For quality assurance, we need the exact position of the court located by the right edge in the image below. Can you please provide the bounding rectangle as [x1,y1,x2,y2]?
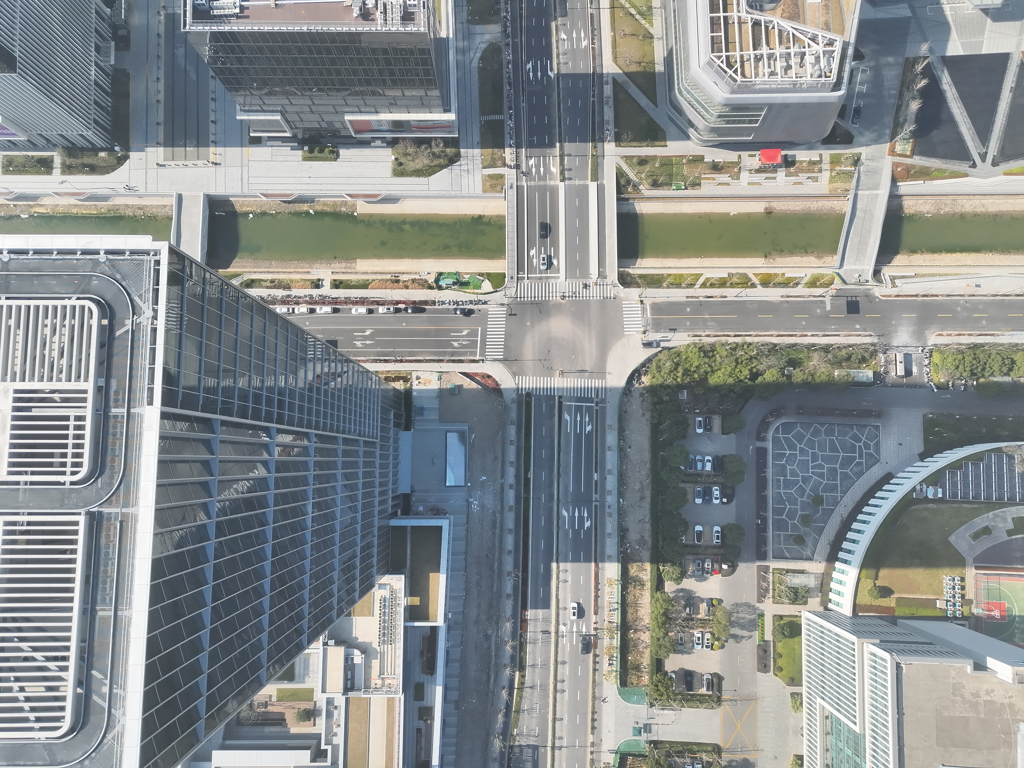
[973,573,1024,639]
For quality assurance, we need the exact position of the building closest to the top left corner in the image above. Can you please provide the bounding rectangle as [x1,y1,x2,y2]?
[0,0,143,148]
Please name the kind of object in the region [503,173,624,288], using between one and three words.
bridge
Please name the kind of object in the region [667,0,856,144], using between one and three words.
building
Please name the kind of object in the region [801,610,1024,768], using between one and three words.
building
